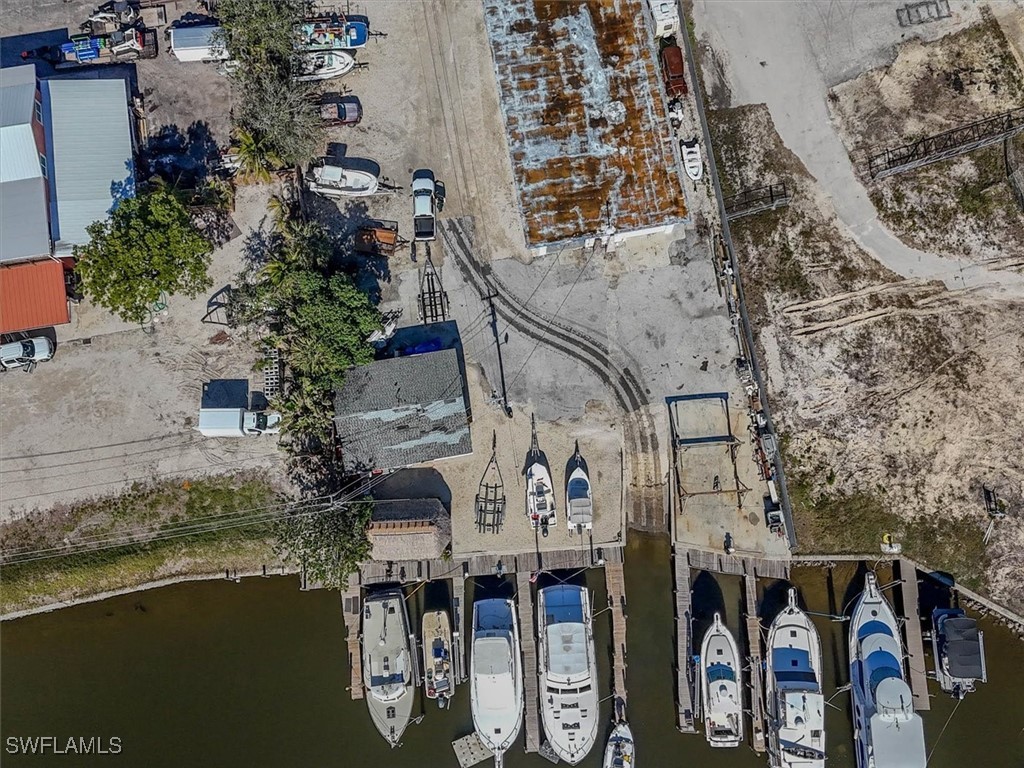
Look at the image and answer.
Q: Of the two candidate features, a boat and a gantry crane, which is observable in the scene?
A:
boat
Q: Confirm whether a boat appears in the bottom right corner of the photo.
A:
Yes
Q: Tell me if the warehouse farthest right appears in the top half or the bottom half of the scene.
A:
top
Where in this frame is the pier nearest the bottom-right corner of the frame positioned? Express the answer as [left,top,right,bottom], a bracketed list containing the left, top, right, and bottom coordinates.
[894,558,935,710]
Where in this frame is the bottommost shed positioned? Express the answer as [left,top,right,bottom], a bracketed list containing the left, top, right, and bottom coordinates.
[362,498,453,562]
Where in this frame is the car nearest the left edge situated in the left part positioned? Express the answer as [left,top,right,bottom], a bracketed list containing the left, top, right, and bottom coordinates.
[0,337,61,375]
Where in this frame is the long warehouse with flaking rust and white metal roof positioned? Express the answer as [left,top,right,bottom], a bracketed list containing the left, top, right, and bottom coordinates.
[487,0,690,263]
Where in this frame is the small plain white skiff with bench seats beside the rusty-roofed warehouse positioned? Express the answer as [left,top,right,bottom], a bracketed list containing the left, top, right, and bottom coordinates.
[678,137,701,195]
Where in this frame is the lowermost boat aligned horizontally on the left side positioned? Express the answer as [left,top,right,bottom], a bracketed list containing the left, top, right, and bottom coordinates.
[305,166,379,200]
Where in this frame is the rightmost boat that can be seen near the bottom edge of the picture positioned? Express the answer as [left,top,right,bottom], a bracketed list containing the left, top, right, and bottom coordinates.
[928,608,981,765]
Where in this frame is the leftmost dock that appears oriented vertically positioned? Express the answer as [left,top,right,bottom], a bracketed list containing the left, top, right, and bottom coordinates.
[341,582,364,699]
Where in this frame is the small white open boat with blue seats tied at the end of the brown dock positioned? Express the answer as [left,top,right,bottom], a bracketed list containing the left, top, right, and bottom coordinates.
[603,718,637,768]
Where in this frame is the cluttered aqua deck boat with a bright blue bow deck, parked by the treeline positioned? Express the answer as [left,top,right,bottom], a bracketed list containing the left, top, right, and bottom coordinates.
[293,12,369,55]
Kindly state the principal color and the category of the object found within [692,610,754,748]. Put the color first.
white boat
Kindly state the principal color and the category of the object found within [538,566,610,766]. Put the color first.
white boat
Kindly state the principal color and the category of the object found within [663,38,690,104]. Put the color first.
red vehicle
